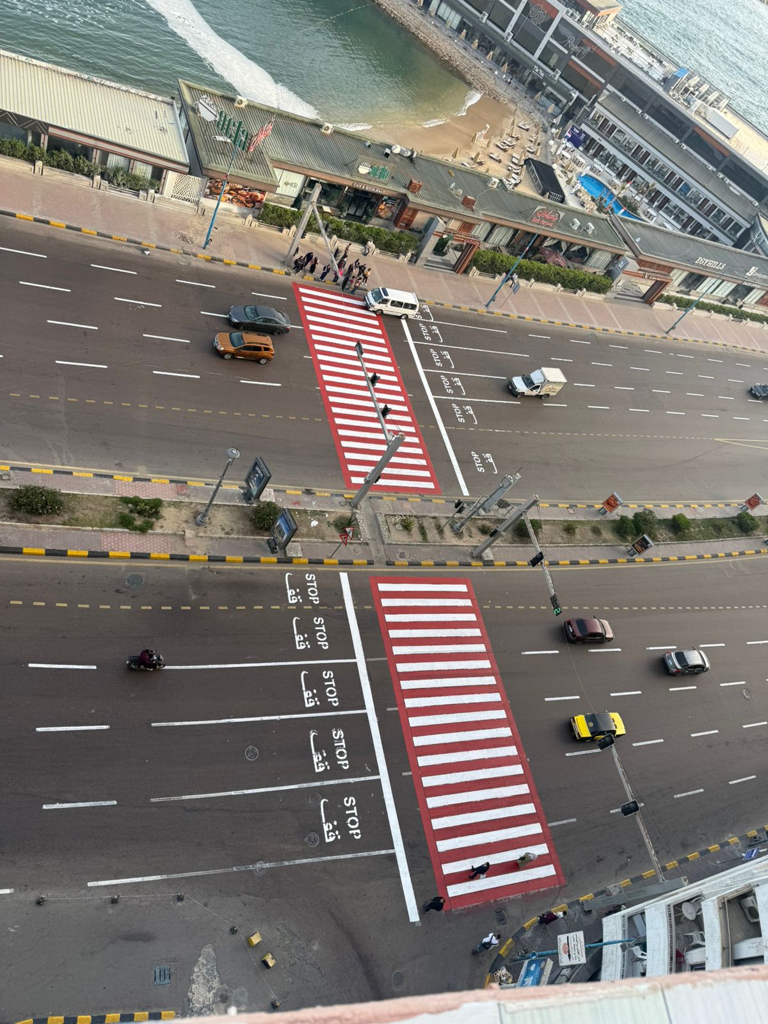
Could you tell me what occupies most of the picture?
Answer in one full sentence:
The scene is dominated by paved ground.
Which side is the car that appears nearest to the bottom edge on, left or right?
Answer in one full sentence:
The car that appears nearest to the bottom edge appears in the right half of the scene.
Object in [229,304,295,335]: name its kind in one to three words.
car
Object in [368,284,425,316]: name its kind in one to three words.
vehicle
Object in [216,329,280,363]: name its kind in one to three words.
car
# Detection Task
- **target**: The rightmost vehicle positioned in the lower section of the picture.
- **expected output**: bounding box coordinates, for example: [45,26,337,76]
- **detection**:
[663,646,714,675]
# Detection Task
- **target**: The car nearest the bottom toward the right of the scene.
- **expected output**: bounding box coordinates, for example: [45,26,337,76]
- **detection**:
[569,705,630,740]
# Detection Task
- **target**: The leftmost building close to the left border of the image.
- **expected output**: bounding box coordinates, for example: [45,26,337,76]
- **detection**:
[0,49,191,199]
